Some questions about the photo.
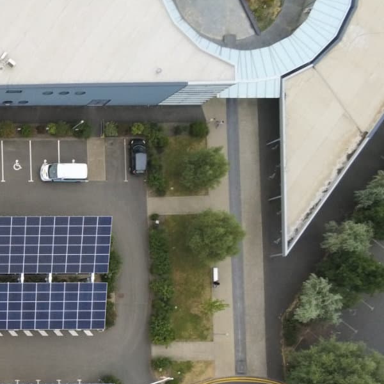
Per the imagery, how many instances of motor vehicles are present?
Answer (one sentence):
Altogether the scene contains 2 motor vehicles.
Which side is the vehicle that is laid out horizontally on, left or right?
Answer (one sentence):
The vehicle that is laid out horizontally is on the left side of the image.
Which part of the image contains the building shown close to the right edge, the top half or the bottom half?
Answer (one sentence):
The building shown close to the right edge is in the top half of the image.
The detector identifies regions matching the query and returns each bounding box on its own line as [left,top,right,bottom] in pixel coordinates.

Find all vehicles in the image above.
[128,139,149,175]
[40,162,89,182]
